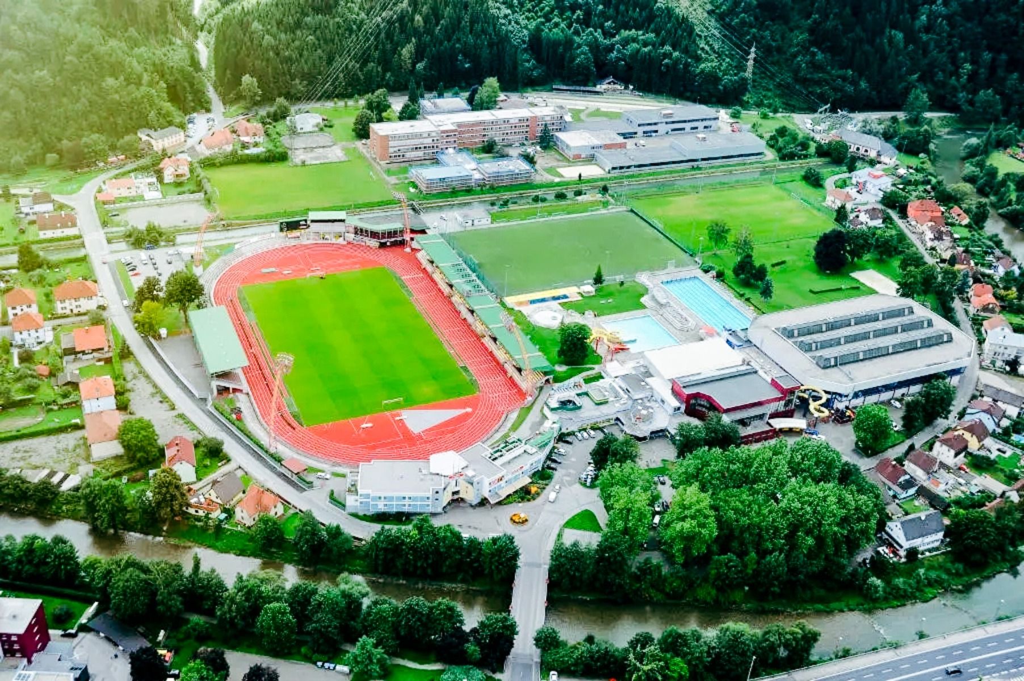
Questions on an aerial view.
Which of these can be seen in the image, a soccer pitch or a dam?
soccer pitch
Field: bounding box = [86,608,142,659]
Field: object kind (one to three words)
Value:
building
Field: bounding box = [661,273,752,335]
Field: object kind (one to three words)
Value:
swimming pool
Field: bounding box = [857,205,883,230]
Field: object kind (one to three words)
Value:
house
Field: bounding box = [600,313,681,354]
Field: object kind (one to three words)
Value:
swimming pool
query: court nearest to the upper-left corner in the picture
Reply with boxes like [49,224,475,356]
[291,146,348,165]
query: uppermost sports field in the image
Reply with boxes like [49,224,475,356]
[442,210,695,298]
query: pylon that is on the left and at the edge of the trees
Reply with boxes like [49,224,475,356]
[283,95,296,135]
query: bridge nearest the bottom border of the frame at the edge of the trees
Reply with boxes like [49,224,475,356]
[506,556,549,681]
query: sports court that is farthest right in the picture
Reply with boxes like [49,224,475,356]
[851,268,898,294]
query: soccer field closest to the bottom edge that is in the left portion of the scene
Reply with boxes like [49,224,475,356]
[240,264,479,428]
